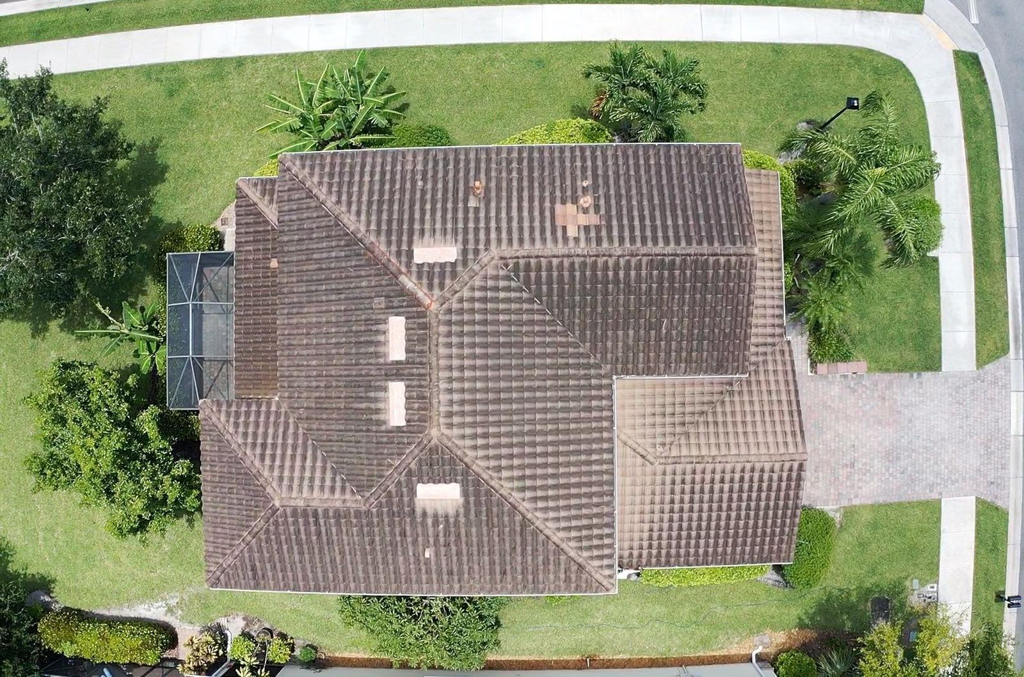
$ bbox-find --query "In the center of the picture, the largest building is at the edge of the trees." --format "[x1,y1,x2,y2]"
[198,140,810,598]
